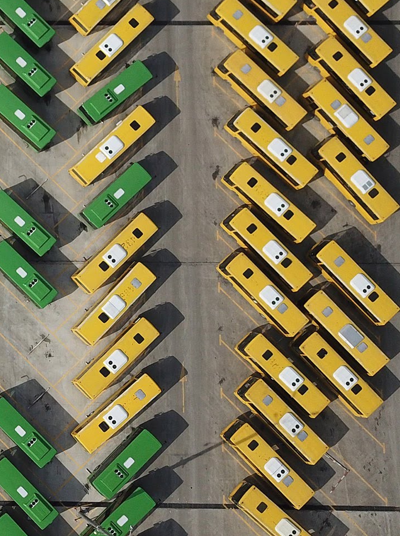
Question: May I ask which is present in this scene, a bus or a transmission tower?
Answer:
bus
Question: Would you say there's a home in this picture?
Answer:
No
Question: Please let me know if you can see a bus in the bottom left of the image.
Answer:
Yes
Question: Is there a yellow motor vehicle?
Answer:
Yes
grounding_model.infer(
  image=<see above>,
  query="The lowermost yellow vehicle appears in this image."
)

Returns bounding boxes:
[230,478,306,536]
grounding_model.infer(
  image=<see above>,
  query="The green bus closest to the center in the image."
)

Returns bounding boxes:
[79,161,156,230]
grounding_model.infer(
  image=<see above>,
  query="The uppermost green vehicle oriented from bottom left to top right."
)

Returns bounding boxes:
[78,60,156,126]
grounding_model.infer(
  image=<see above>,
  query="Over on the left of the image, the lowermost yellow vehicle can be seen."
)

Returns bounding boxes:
[70,369,164,451]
